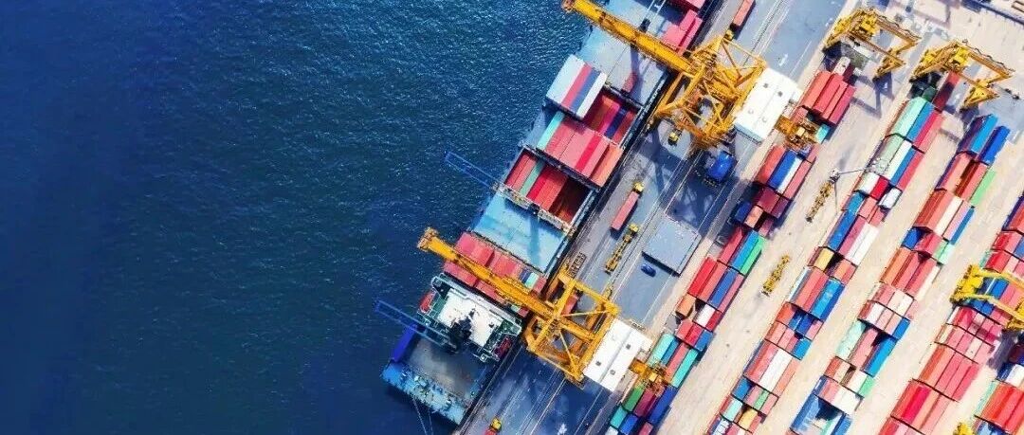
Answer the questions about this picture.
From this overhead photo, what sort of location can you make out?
port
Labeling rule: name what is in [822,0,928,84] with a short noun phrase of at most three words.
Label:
container crane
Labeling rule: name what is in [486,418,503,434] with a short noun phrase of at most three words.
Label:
vehicle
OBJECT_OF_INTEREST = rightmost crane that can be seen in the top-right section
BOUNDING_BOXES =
[910,33,1023,115]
